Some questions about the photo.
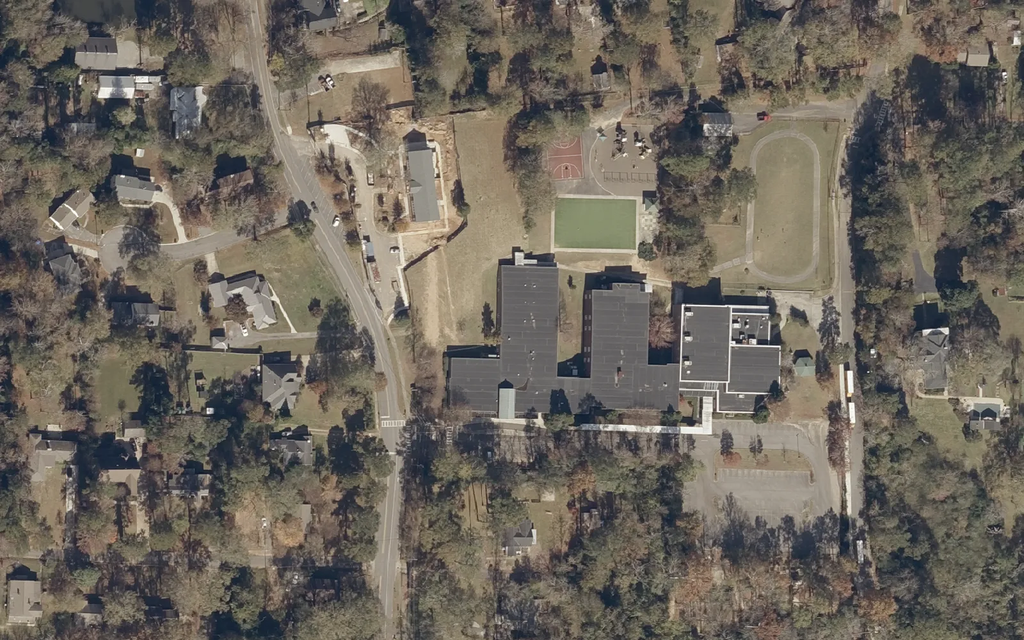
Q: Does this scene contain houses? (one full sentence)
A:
Yes, a house can be made out from above.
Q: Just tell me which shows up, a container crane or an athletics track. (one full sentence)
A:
It is an athletics track that can be seen here.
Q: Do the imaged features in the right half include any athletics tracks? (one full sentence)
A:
Yes, an athletics track can be seen in the right half.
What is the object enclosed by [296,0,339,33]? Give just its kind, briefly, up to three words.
house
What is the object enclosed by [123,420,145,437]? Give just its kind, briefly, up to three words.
shed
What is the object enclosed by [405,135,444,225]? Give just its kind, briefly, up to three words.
building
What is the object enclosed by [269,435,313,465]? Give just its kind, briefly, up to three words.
house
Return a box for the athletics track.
[748,130,820,283]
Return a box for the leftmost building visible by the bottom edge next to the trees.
[8,580,42,623]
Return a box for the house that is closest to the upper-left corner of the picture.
[74,38,119,71]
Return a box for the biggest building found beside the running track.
[447,266,781,419]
